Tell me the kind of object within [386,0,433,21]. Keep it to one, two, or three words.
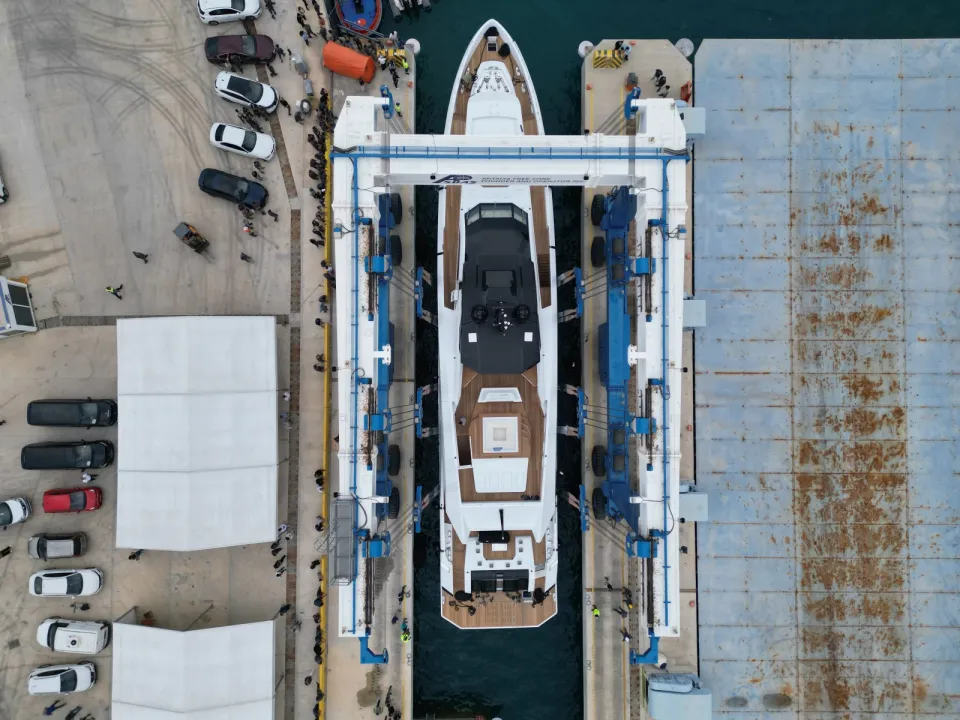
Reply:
boat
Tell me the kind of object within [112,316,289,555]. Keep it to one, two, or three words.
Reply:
tent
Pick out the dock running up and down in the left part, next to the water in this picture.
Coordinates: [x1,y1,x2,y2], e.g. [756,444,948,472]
[322,38,417,720]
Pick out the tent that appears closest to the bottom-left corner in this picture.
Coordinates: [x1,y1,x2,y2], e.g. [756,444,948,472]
[109,607,285,720]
